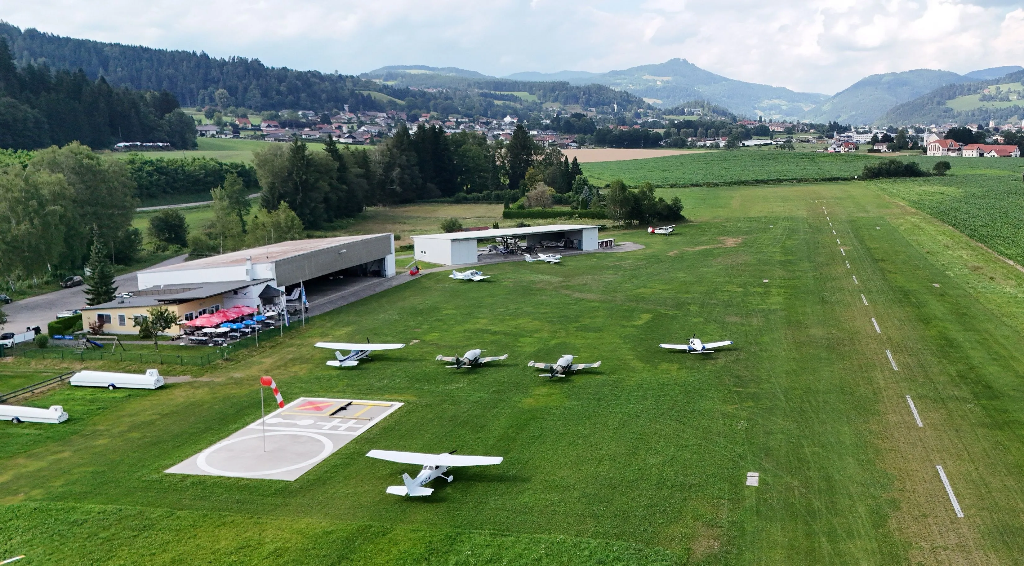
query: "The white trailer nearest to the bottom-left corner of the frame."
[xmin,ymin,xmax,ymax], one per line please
[0,398,72,425]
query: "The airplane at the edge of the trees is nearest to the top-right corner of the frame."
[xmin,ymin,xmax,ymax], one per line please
[648,223,678,235]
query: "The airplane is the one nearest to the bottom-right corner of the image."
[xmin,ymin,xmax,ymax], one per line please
[661,335,732,354]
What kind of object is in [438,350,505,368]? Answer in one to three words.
airplane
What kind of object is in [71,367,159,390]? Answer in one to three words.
trailer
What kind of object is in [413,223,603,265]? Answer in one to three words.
hangar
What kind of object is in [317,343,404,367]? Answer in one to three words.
airplane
